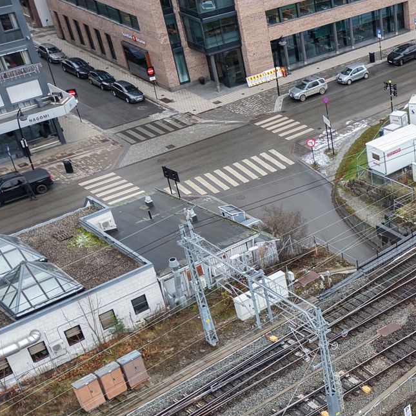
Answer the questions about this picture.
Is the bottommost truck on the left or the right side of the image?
left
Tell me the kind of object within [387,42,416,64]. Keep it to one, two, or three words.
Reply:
car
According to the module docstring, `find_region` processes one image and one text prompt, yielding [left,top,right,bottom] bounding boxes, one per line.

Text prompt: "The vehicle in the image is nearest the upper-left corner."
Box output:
[35,41,63,61]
